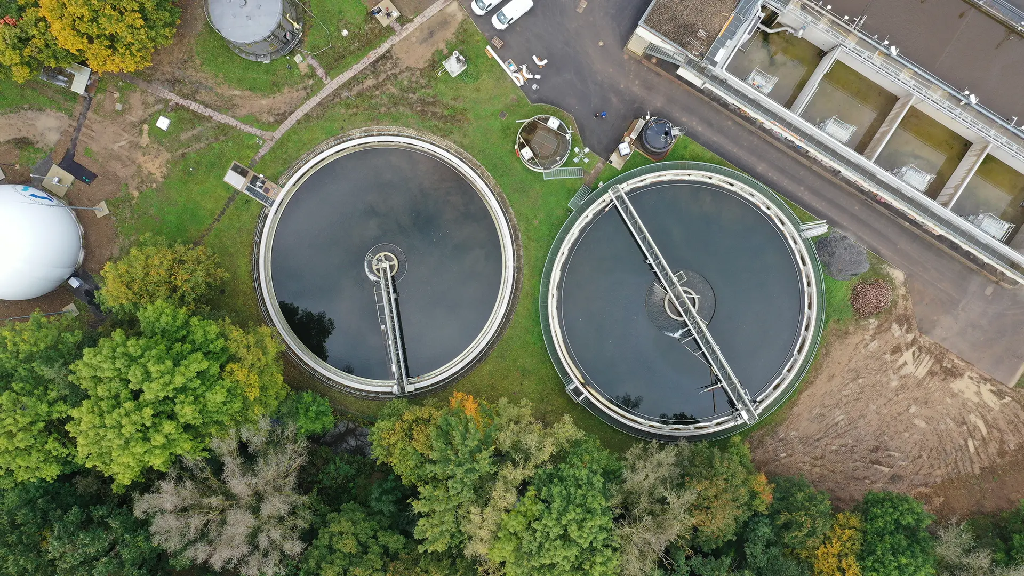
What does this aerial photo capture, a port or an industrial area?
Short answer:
industrial area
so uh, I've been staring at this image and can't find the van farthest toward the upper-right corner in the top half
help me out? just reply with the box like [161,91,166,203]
[492,0,533,32]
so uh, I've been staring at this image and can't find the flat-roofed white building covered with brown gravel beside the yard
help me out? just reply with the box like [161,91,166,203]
[625,0,742,65]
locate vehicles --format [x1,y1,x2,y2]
[471,0,500,16]
[492,0,533,32]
